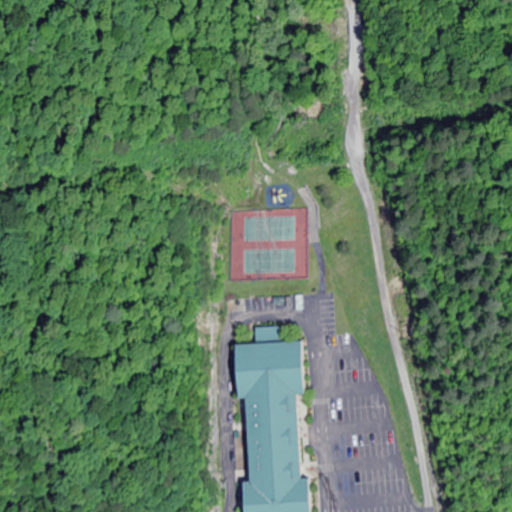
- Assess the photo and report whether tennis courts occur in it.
Yes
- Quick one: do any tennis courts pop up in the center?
Yes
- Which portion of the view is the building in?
bottom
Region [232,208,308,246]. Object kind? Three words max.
tennis court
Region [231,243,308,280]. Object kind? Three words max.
tennis court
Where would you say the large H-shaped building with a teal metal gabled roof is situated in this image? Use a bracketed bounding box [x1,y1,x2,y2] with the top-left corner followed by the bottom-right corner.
[234,325,310,512]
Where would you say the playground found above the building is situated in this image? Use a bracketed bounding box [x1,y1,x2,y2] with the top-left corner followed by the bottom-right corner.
[266,184,294,208]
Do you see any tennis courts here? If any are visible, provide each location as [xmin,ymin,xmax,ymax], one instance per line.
[231,243,308,280]
[232,208,308,246]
